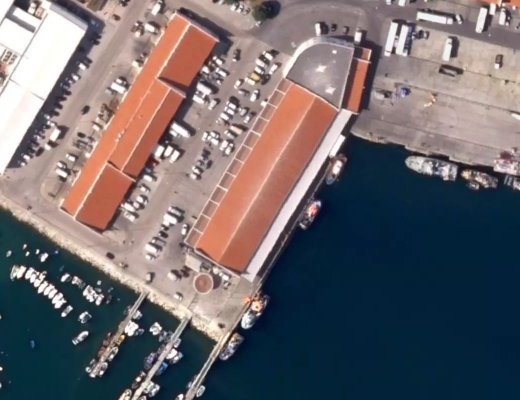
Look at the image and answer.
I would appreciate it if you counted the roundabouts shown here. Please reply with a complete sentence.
The count of roundabouts is 0.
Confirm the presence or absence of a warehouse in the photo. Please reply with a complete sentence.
Yes, the image includes a warehouse.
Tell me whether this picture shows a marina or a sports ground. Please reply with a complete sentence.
The picture captures a marina.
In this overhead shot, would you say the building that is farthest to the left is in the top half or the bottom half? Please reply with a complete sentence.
The top half of the photo is where the building that is farthest to the left is.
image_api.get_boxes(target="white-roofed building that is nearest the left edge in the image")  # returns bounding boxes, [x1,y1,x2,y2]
[0,0,88,171]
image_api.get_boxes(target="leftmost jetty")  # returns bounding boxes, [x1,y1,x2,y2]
[89,287,150,377]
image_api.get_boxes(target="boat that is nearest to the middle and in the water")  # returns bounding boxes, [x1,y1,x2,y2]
[300,202,319,229]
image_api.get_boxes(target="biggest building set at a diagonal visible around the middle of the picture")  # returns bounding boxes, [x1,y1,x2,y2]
[184,37,371,282]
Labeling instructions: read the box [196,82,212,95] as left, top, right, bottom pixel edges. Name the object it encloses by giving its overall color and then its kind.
white vehicle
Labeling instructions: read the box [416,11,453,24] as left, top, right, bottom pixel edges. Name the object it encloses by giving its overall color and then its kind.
white vehicle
